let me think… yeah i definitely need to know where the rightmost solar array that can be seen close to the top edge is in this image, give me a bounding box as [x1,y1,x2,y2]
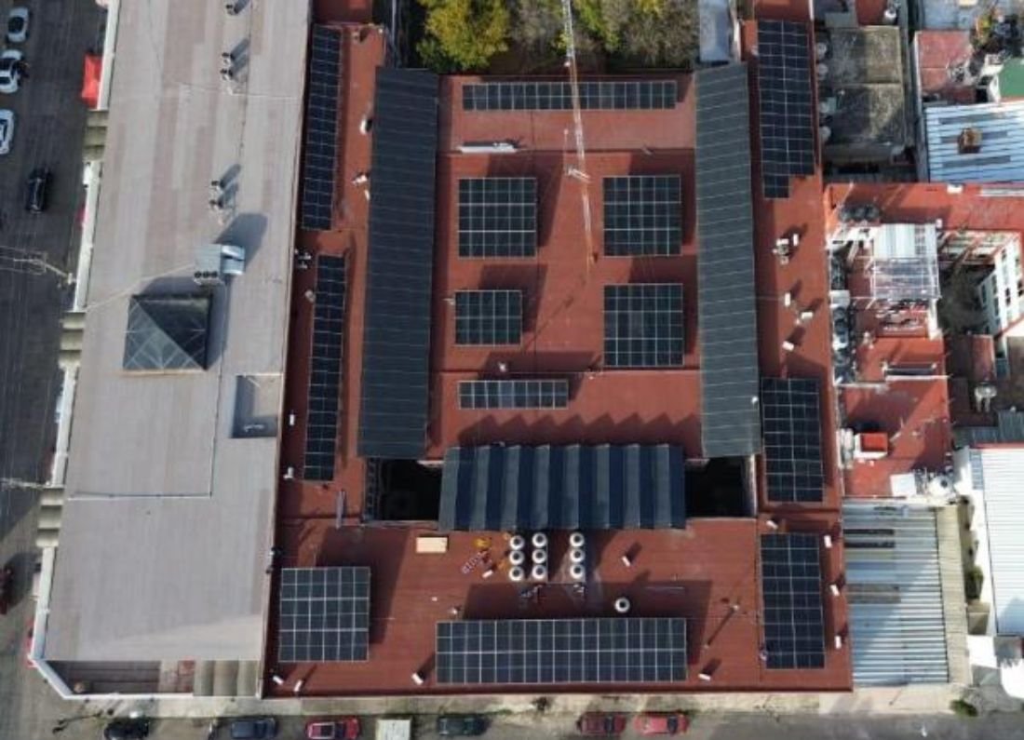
[756,21,815,197]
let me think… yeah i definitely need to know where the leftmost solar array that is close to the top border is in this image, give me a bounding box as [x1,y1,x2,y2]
[305,25,340,229]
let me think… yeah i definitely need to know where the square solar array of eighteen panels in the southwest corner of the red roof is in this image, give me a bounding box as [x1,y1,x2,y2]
[279,564,377,662]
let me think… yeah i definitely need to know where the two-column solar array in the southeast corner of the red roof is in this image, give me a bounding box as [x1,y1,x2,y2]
[758,534,827,668]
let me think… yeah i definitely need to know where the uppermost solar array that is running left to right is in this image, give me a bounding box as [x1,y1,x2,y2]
[463,81,677,118]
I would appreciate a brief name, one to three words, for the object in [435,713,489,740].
car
